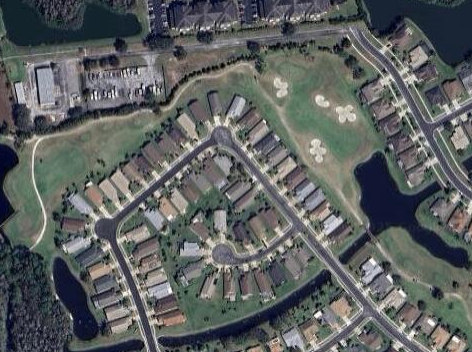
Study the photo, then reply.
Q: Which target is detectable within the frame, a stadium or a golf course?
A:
golf course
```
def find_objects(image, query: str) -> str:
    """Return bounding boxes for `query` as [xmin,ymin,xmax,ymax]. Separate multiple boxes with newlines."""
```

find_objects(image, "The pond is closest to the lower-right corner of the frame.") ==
[356,152,468,268]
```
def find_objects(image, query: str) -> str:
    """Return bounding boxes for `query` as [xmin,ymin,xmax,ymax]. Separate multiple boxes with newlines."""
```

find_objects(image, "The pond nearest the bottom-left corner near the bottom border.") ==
[52,257,99,339]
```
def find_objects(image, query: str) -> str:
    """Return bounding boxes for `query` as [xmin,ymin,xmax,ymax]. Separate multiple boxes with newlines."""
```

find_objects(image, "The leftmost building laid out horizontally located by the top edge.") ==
[171,0,238,31]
